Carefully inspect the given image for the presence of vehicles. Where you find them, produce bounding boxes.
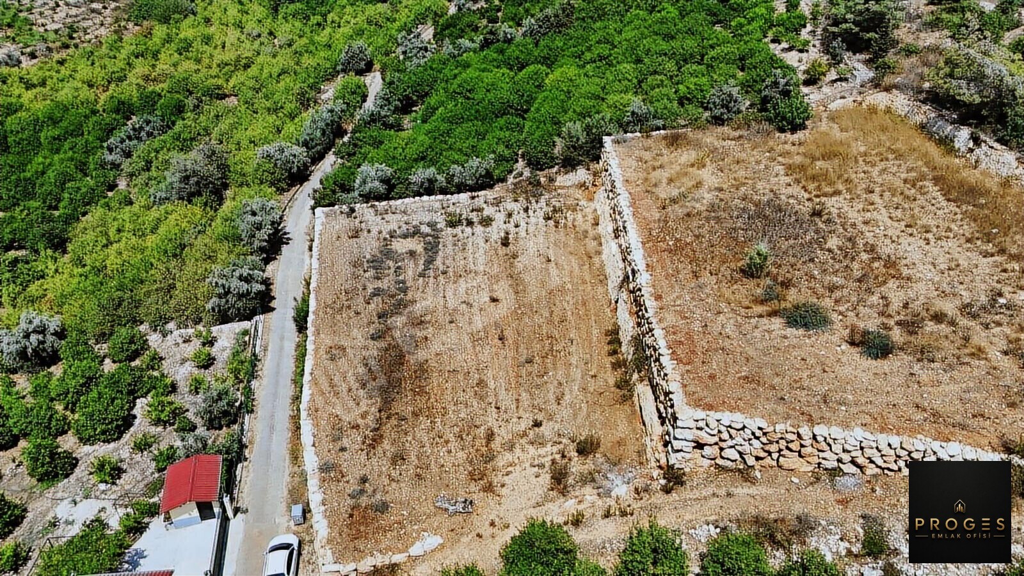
[257,533,302,576]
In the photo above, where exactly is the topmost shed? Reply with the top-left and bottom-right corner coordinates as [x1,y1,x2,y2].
[160,454,224,530]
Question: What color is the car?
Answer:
white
